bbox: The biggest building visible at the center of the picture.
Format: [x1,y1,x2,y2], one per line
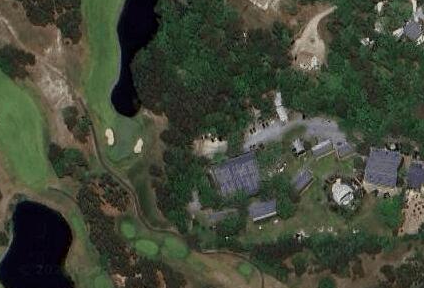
[209,148,263,197]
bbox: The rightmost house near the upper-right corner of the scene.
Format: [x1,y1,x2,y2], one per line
[393,0,424,44]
